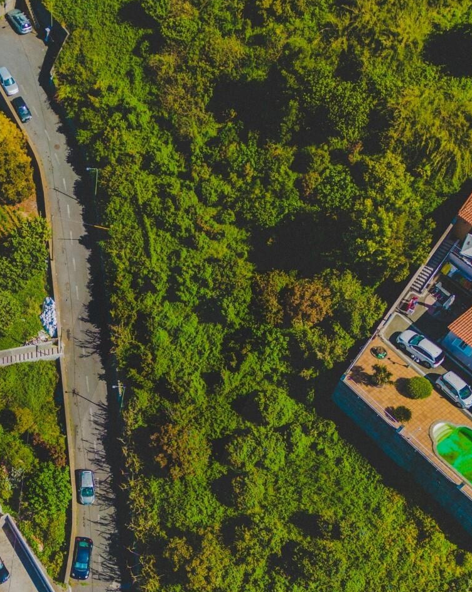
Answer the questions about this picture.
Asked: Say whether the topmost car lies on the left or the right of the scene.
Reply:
left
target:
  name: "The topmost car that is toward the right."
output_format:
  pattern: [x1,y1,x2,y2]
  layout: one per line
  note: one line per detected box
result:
[394,330,446,370]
